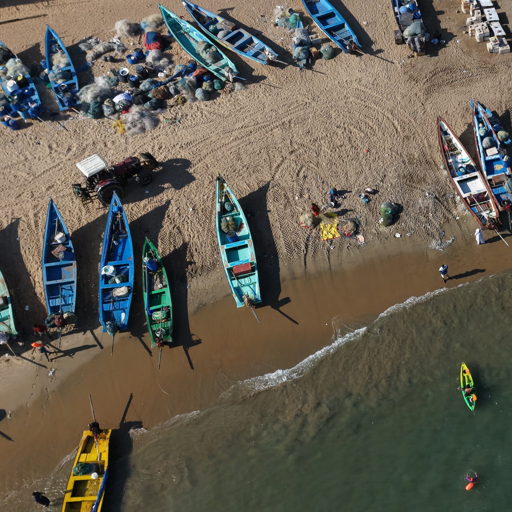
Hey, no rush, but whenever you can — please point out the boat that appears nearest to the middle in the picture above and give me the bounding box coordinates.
[214,170,266,337]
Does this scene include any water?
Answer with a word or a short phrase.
Yes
